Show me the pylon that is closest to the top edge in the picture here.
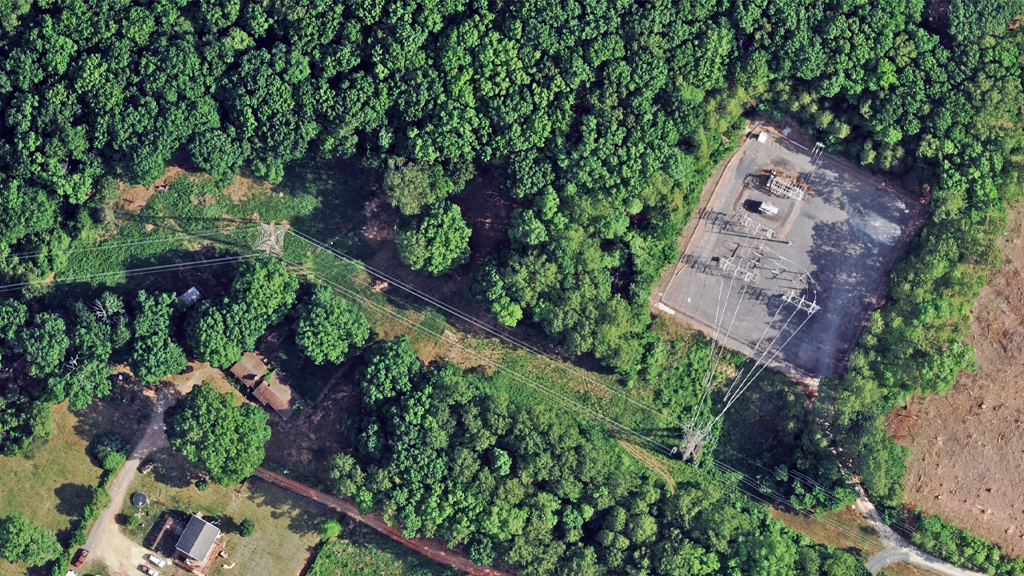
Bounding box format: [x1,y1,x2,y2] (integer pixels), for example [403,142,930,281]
[251,218,290,258]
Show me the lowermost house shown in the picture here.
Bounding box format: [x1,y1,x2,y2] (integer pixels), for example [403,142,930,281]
[151,516,220,573]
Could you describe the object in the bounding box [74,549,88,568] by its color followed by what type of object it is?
red vehicle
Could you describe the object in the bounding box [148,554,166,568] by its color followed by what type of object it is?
white car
